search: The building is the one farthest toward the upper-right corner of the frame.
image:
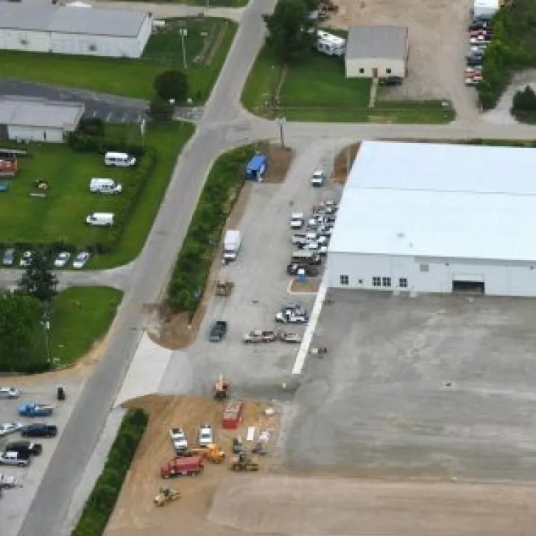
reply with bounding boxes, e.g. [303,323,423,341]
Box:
[344,25,408,77]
